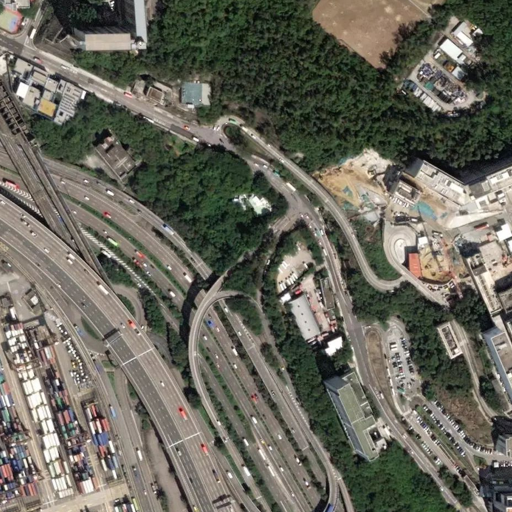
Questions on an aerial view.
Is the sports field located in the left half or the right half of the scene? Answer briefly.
right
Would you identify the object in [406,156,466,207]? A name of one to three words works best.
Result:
building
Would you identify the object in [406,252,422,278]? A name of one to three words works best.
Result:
shed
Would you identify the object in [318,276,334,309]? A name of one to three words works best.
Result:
house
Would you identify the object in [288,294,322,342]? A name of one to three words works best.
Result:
building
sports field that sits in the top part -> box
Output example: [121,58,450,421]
[312,0,435,68]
